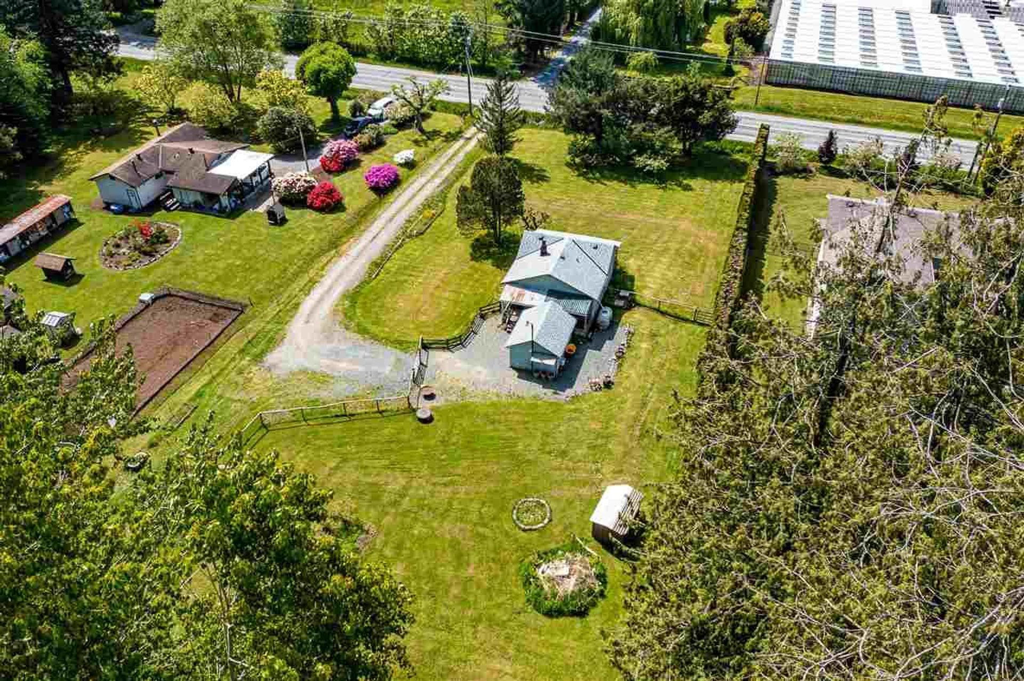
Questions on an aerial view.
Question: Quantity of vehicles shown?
2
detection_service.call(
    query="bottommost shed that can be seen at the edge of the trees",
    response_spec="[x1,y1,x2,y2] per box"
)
[589,485,646,550]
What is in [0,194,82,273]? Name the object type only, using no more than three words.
shed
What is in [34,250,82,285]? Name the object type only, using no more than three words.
shed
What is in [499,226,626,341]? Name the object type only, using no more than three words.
house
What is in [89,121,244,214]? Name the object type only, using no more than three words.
house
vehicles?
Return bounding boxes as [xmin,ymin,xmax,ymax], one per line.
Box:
[366,90,400,116]
[343,113,378,135]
